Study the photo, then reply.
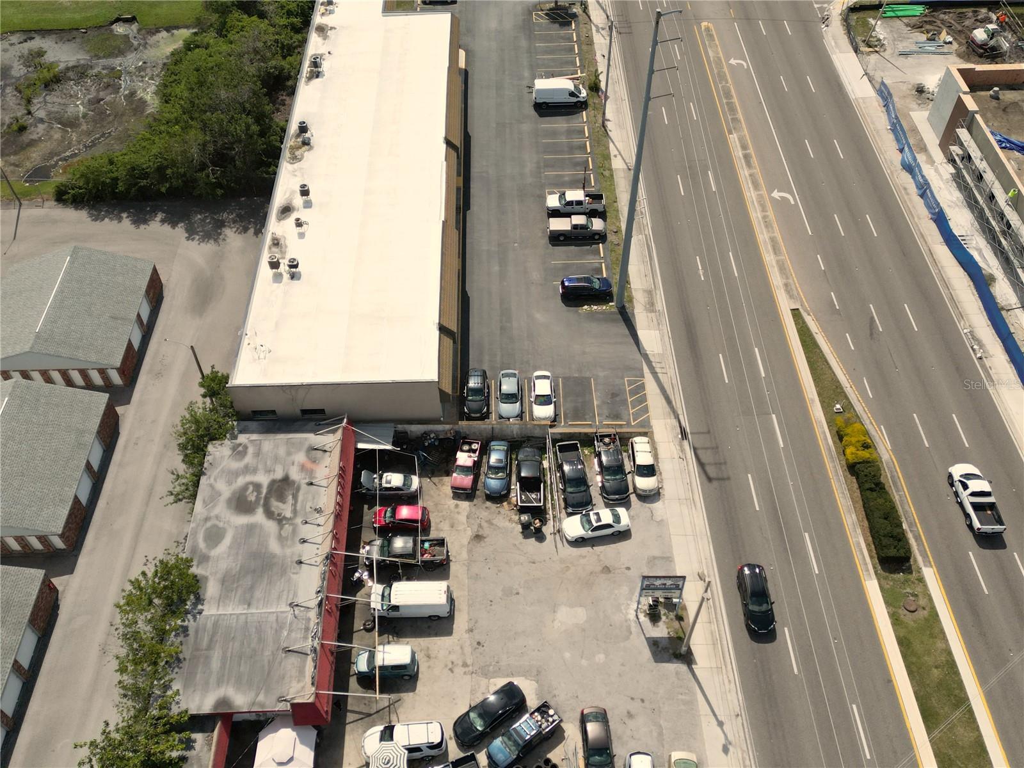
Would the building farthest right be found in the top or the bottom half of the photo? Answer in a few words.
top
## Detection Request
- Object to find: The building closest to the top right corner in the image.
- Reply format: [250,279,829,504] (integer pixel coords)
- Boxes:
[914,63,1024,274]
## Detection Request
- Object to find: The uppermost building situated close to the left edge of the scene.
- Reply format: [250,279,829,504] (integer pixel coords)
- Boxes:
[0,253,160,389]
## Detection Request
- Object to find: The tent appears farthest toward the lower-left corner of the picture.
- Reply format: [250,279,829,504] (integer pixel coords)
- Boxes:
[256,726,326,768]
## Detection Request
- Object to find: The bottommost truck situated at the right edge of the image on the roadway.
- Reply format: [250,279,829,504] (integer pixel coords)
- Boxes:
[951,465,1008,538]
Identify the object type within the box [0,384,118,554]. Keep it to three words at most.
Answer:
building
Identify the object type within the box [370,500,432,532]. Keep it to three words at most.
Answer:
car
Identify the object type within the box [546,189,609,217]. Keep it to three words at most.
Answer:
truck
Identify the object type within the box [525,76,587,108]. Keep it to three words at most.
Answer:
van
